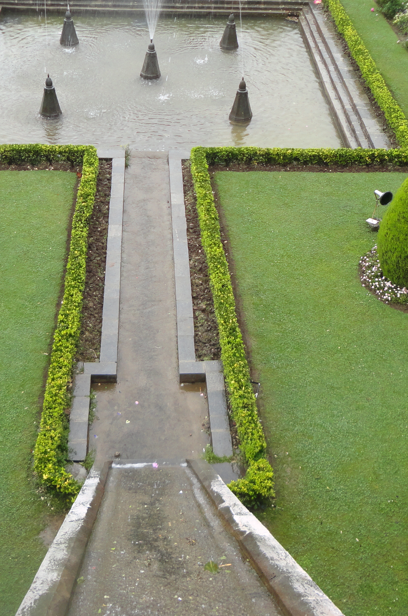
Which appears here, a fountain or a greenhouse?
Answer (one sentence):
The image shows a fountain.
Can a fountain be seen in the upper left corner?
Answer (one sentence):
Yes, there is a fountain in the upper left corner.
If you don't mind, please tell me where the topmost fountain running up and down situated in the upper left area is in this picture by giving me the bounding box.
[60,9,79,49]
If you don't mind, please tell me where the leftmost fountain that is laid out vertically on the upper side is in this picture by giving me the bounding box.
[40,75,62,122]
